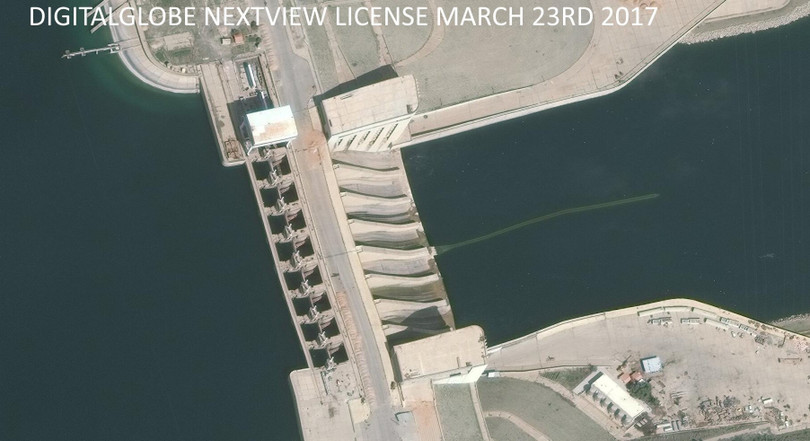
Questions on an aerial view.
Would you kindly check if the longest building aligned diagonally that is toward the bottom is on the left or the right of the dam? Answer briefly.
to its right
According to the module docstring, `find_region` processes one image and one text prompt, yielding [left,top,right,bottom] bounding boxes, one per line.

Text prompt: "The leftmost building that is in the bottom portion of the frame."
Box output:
[390,325,489,387]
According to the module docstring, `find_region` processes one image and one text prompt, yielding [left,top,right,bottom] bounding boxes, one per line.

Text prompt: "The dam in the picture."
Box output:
[201,50,454,441]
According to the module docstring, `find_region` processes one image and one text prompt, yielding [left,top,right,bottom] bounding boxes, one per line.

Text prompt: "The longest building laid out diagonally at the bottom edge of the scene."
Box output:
[588,373,644,423]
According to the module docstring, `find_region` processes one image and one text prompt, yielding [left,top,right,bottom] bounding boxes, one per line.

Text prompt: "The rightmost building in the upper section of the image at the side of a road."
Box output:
[320,75,421,154]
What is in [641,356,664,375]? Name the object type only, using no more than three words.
shed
